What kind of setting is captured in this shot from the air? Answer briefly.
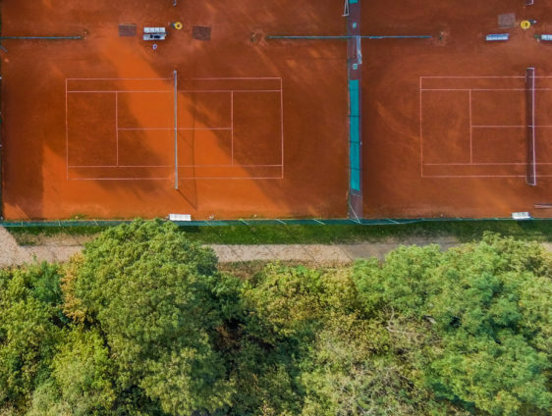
sports ground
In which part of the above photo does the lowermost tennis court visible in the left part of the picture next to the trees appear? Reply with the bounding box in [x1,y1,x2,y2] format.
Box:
[0,37,349,221]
